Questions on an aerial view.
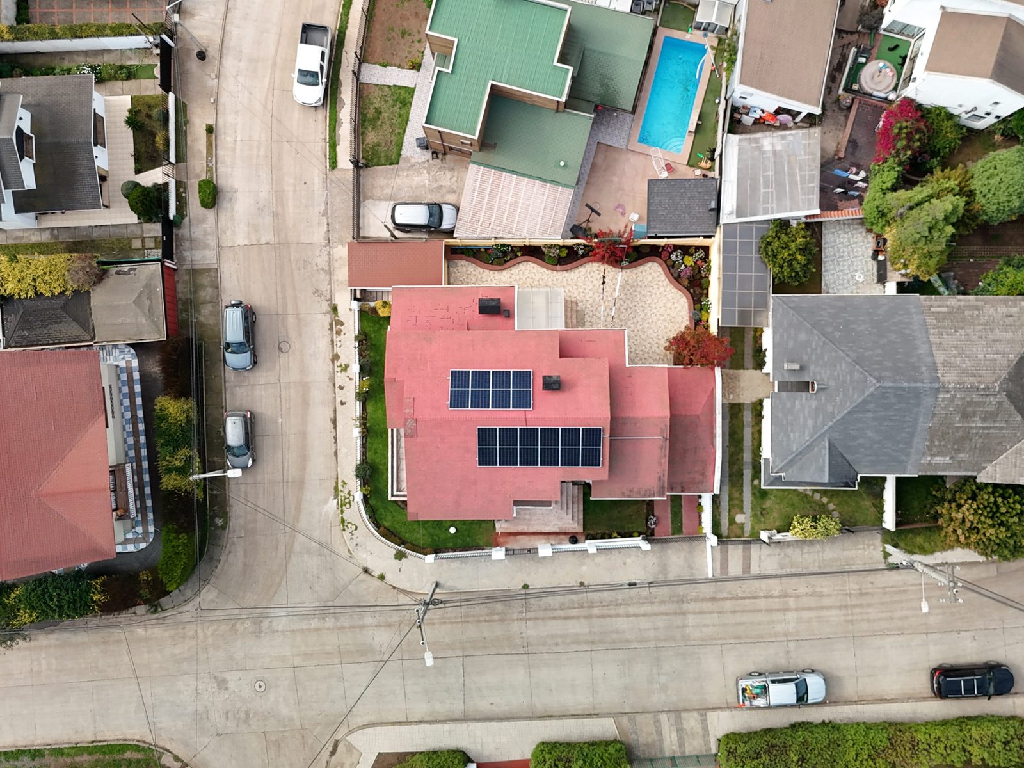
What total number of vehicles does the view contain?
6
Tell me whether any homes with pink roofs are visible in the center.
Yes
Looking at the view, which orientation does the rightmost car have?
horizontally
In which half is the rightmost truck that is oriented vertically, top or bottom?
top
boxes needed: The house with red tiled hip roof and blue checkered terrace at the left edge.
[0,350,142,580]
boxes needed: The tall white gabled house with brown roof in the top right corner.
[880,0,1024,121]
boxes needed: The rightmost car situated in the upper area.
[391,197,460,235]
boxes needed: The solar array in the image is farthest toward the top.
[448,369,533,410]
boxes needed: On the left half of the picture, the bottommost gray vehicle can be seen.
[219,409,255,470]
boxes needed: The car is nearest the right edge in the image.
[928,661,1015,703]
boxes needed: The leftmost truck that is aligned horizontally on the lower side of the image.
[734,671,826,712]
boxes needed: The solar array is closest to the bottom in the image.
[476,427,604,467]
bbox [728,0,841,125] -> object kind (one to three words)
house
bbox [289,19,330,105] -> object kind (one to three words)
truck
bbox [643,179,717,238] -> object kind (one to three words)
shed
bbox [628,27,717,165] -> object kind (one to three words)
swimming pool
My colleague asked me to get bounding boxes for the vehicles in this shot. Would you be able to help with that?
[219,409,255,470]
[928,661,1015,703]
[734,671,826,712]
[289,19,330,105]
[391,197,460,235]
[218,298,256,370]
